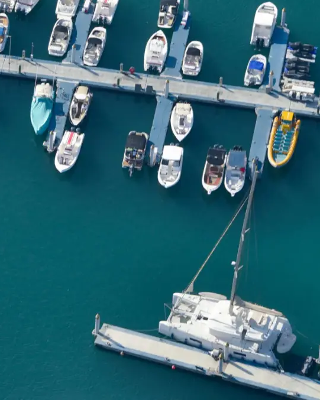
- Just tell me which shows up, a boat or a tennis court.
boat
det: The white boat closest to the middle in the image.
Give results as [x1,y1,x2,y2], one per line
[158,141,183,191]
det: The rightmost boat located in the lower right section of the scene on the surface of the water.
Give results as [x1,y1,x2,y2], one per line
[298,354,314,378]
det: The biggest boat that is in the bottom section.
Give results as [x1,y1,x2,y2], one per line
[160,183,293,367]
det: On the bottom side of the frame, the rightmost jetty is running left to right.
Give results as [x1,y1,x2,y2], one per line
[218,359,320,400]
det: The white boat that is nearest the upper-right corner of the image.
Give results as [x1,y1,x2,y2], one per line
[250,2,277,51]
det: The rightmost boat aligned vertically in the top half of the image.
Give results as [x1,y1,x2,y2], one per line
[267,109,303,169]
